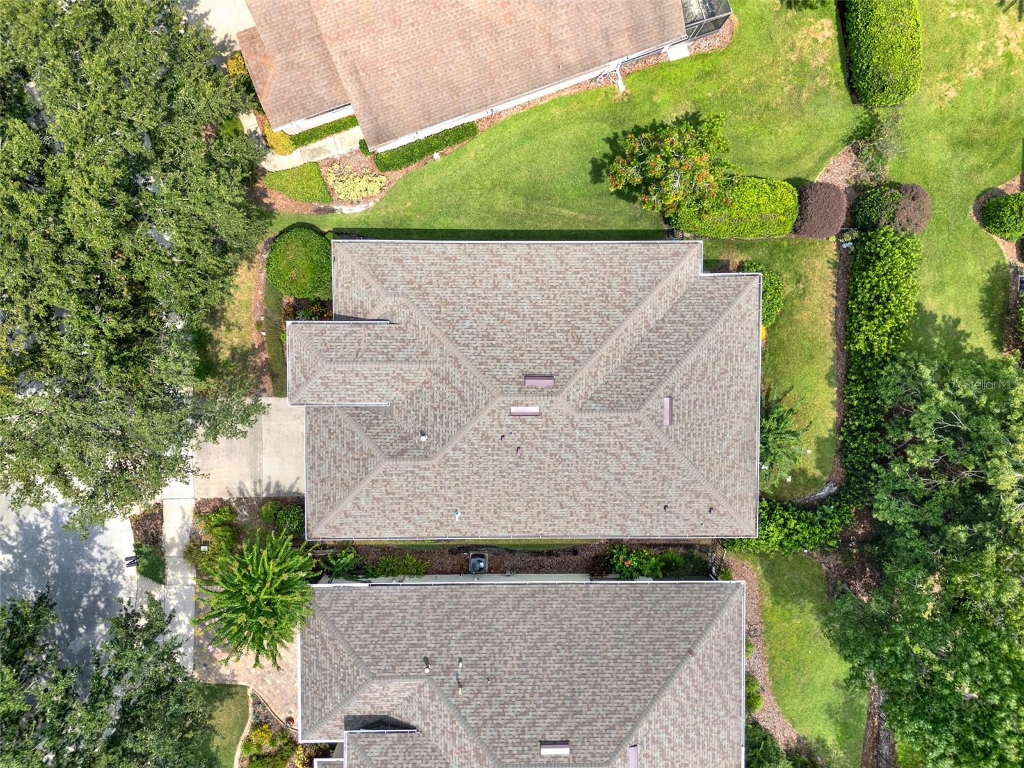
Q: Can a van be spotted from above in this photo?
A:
No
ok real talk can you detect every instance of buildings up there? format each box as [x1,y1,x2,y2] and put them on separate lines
[287,241,760,539]
[299,574,744,768]
[237,0,688,155]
